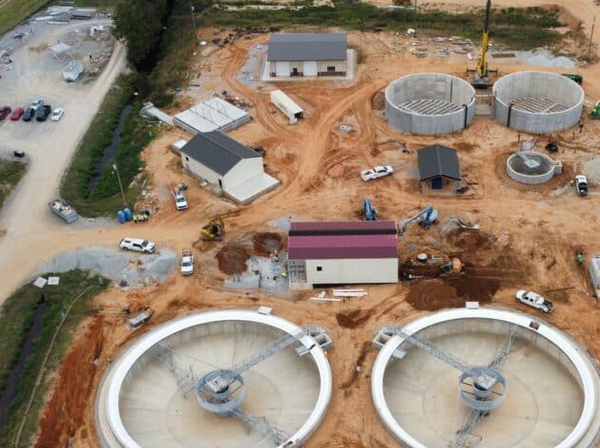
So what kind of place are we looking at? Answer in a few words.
industrial area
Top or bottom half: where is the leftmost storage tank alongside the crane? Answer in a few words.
top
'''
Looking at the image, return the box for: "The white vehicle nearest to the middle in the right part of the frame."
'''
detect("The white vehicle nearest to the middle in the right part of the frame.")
[360,164,395,180]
